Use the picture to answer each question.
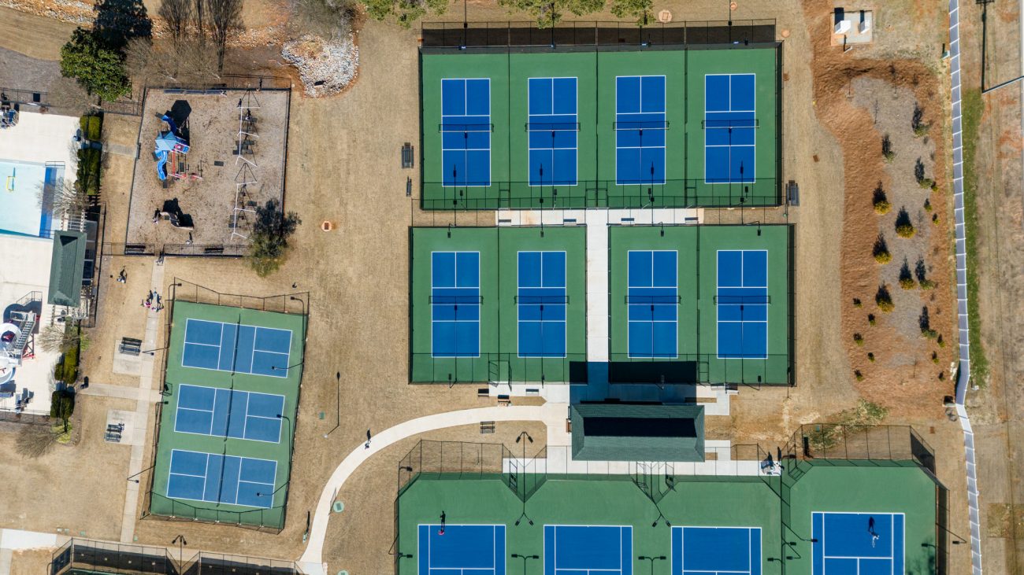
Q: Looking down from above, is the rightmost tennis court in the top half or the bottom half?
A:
bottom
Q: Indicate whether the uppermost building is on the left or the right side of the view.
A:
left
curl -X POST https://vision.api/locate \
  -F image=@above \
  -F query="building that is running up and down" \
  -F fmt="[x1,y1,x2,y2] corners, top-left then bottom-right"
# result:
[48,208,102,327]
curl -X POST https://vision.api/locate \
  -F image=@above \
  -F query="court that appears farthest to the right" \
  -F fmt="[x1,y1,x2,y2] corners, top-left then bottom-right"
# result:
[782,460,936,575]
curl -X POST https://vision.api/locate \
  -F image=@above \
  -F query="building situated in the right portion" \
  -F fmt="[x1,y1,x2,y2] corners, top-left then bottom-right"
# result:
[571,400,705,462]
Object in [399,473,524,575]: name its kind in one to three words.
tennis court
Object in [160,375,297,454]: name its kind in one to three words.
sports court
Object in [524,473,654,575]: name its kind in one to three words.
tennis court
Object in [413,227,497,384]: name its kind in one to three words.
sports court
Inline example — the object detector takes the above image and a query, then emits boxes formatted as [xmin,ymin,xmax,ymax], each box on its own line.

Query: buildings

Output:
[48,208,102,327]
[571,400,705,462]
